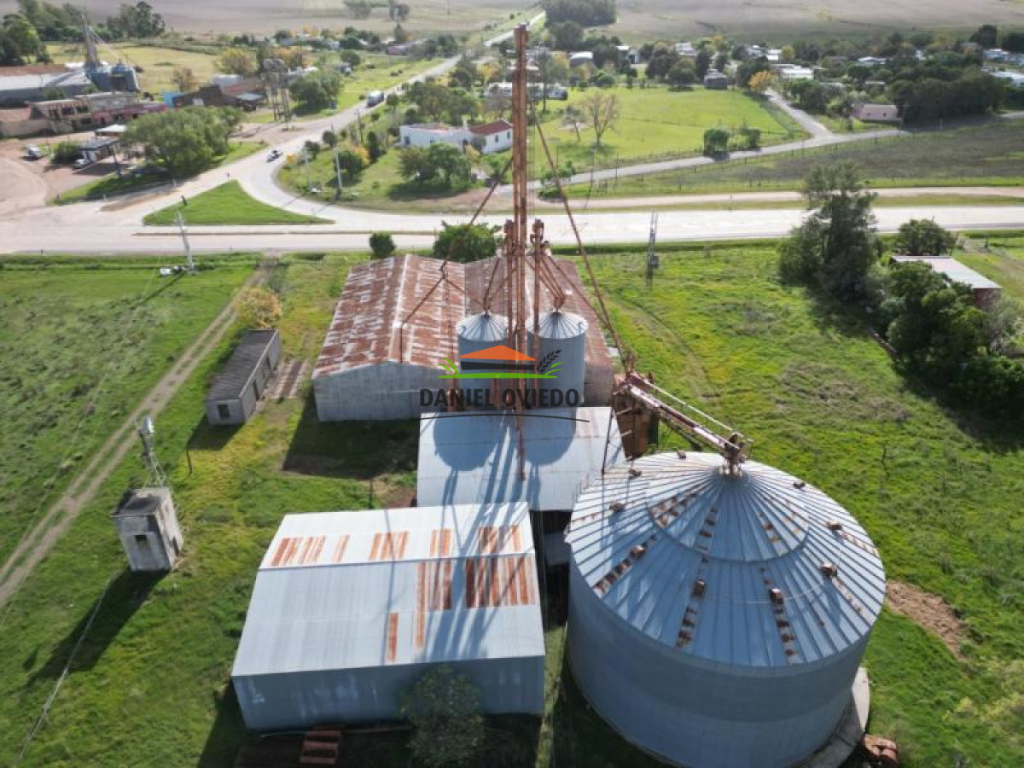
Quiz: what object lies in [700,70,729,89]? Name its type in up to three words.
house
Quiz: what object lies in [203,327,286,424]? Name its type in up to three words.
shed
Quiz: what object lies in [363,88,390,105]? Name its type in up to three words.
vehicle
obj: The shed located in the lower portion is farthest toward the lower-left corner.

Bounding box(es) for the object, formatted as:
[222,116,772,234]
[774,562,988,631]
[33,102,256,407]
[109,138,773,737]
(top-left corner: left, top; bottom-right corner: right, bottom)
[111,489,184,569]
